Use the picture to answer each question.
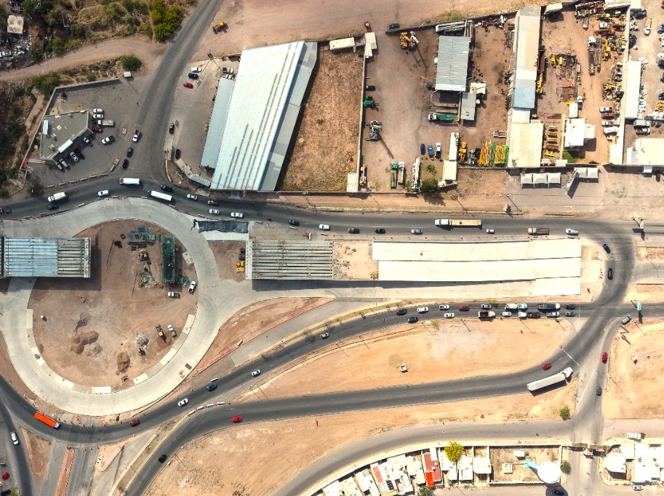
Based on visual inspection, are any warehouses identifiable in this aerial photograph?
Yes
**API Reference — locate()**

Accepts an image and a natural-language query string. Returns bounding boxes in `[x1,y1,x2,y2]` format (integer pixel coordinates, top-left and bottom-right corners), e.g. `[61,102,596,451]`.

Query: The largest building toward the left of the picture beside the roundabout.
[200,42,317,193]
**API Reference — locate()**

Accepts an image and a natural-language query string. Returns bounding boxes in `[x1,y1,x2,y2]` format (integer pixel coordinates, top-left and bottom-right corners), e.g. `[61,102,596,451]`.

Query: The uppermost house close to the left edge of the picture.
[7,16,24,36]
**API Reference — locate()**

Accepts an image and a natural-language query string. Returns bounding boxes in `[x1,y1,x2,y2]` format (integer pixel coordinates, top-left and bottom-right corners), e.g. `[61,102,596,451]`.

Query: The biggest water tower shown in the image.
[524,460,562,485]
